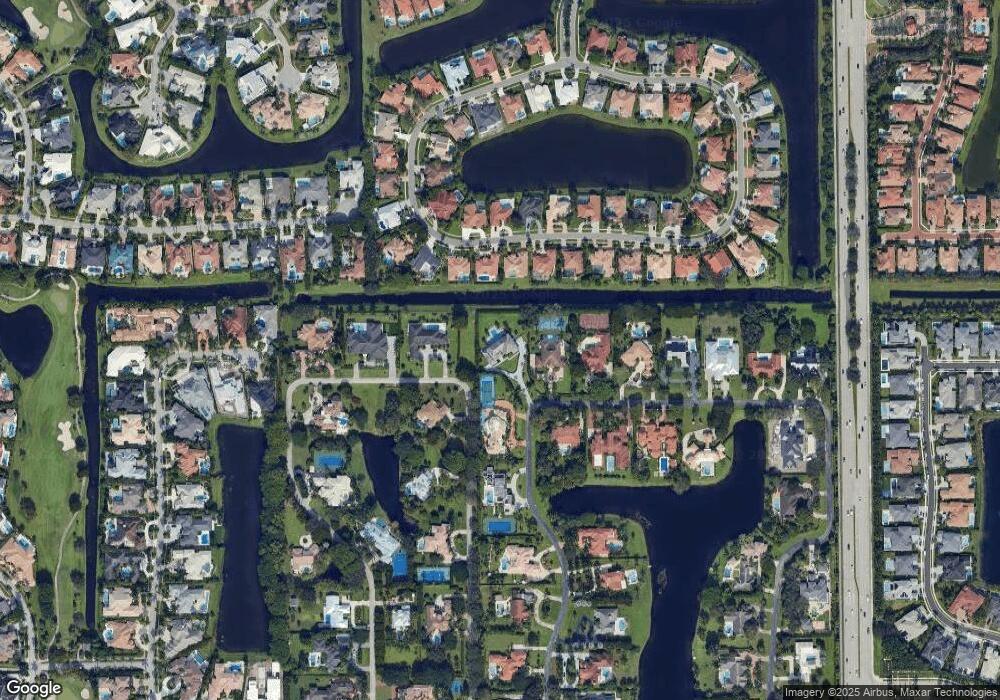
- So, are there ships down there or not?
No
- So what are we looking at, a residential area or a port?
residential area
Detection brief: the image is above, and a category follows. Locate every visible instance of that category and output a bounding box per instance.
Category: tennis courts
[480,375,494,406]
[392,553,408,577]
[538,316,567,330]
[314,451,345,470]
[417,567,450,583]
[580,314,609,329]
[486,518,516,534]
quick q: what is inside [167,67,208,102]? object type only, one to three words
house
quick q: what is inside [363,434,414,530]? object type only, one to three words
pond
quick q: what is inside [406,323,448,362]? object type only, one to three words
house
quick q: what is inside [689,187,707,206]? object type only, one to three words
swimming pool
